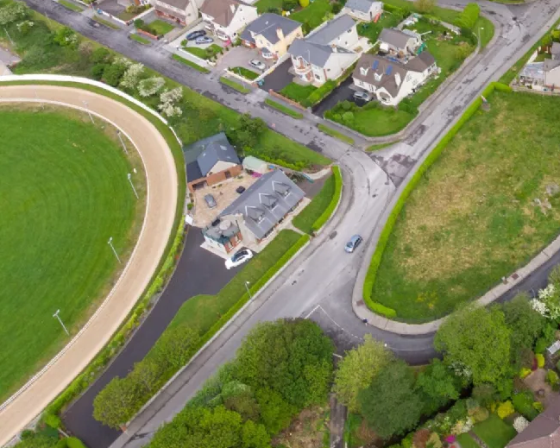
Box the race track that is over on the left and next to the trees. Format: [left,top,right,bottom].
[0,85,176,446]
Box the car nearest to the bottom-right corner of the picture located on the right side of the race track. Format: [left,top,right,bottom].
[344,234,363,254]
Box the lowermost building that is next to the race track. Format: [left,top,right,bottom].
[204,172,305,256]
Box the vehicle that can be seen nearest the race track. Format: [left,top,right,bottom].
[201,191,218,212]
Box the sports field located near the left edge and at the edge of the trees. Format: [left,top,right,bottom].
[0,108,135,392]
